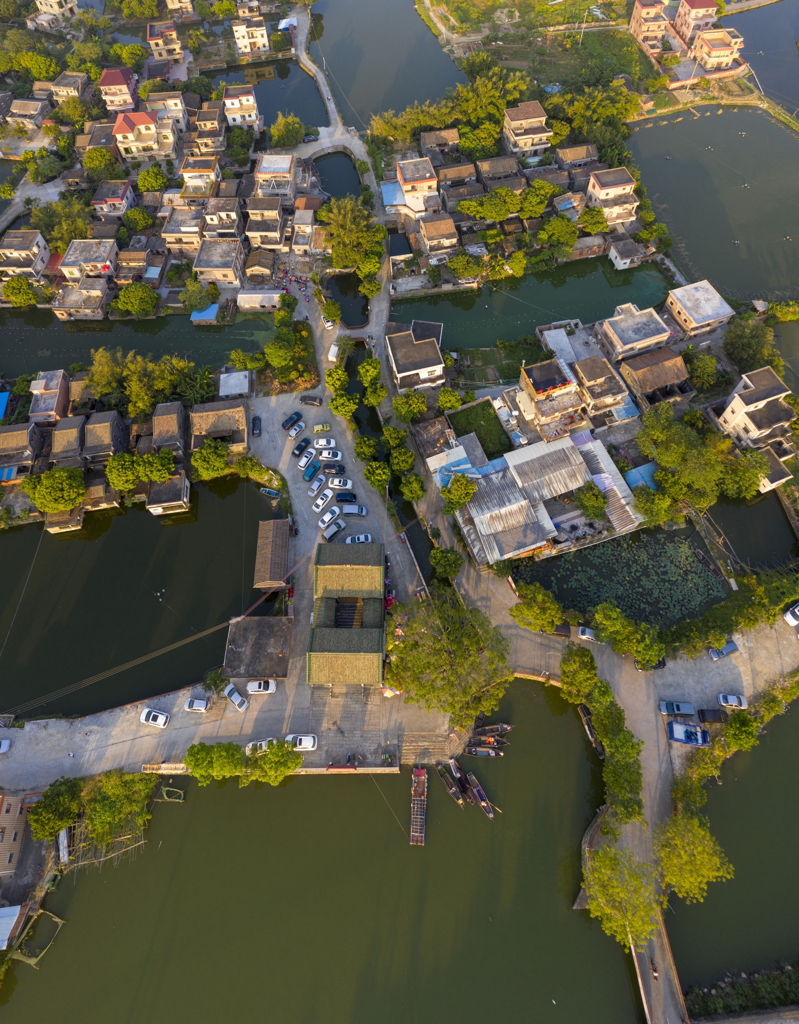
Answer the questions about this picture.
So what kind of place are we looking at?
residential area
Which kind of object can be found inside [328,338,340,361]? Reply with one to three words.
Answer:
vehicle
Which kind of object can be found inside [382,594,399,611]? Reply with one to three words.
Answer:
umbrella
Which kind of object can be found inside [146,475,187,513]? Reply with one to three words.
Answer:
house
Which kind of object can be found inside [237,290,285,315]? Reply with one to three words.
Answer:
building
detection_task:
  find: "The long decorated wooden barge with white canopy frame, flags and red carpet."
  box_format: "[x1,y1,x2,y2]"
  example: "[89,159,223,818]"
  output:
[409,761,428,845]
